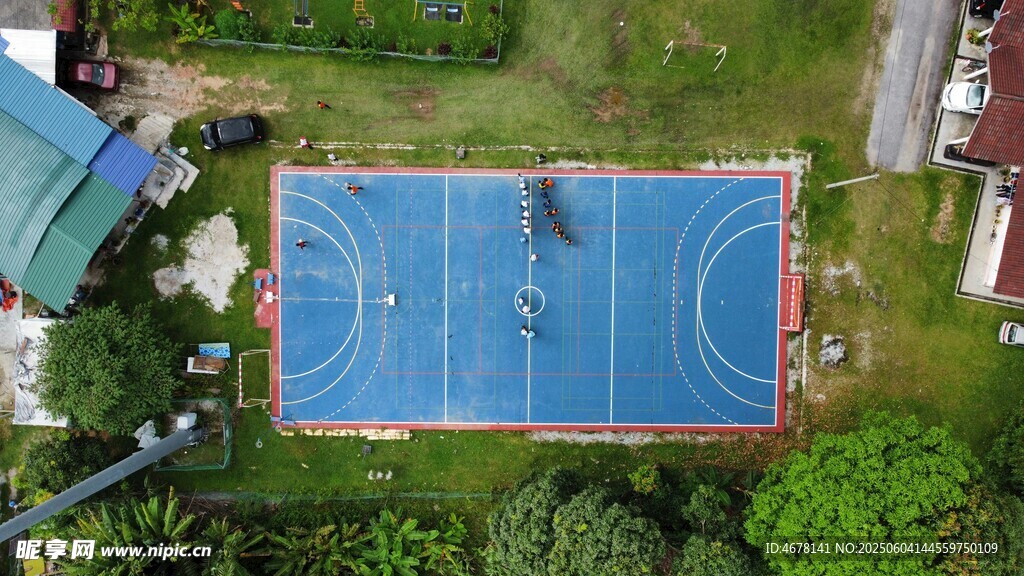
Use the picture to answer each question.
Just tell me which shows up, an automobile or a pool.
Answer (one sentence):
This aerial view contains an automobile.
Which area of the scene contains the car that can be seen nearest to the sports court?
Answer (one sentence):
Look in the top left portion of the view to spot the car that can be seen nearest to the sports court.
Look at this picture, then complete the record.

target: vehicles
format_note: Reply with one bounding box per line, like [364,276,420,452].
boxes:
[939,79,991,115]
[197,114,267,152]
[990,318,1024,349]
[971,0,1004,26]
[67,281,89,304]
[939,135,1006,178]
[58,56,124,92]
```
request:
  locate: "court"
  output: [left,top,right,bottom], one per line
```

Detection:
[255,166,805,432]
